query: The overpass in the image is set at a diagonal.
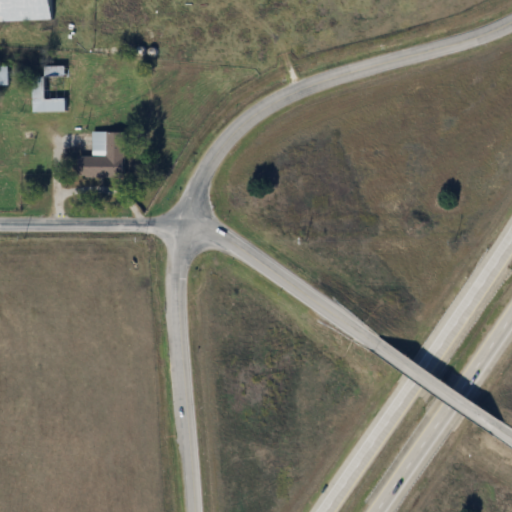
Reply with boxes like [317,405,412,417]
[371,336,509,438]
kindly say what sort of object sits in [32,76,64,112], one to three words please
shed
